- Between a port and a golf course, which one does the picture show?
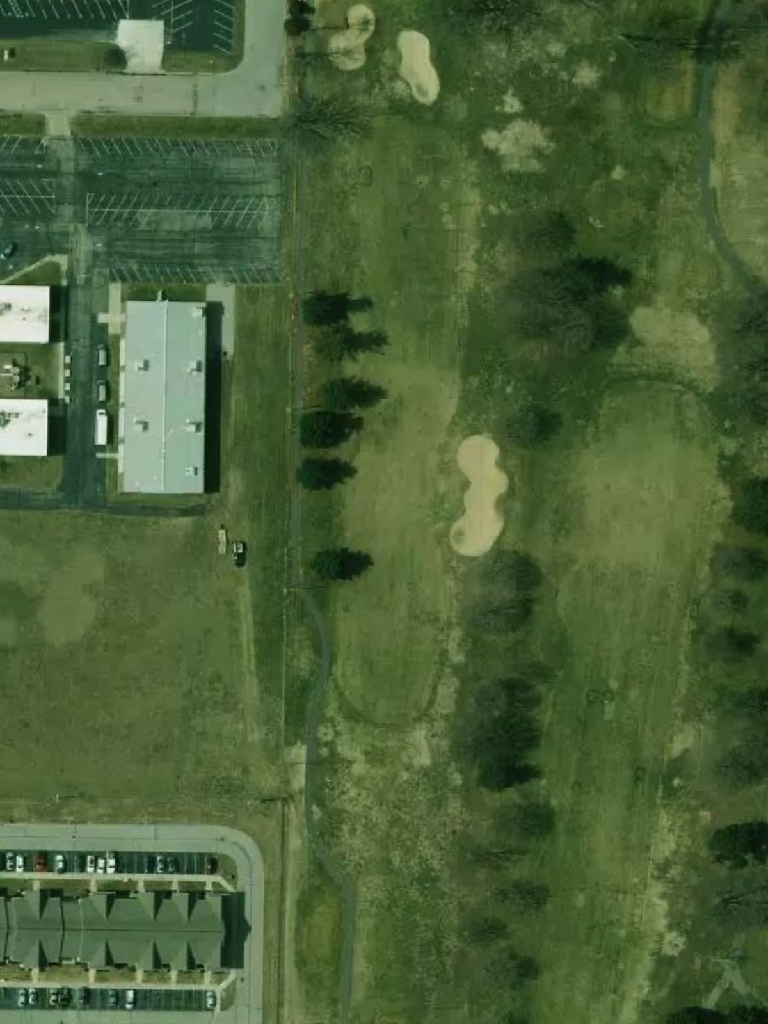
golf course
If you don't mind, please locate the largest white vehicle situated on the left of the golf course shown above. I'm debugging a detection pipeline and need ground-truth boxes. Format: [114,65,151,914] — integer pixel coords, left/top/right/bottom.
[95,409,107,445]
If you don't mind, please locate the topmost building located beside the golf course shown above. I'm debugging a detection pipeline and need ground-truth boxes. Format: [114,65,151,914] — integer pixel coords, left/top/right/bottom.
[119,289,206,494]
